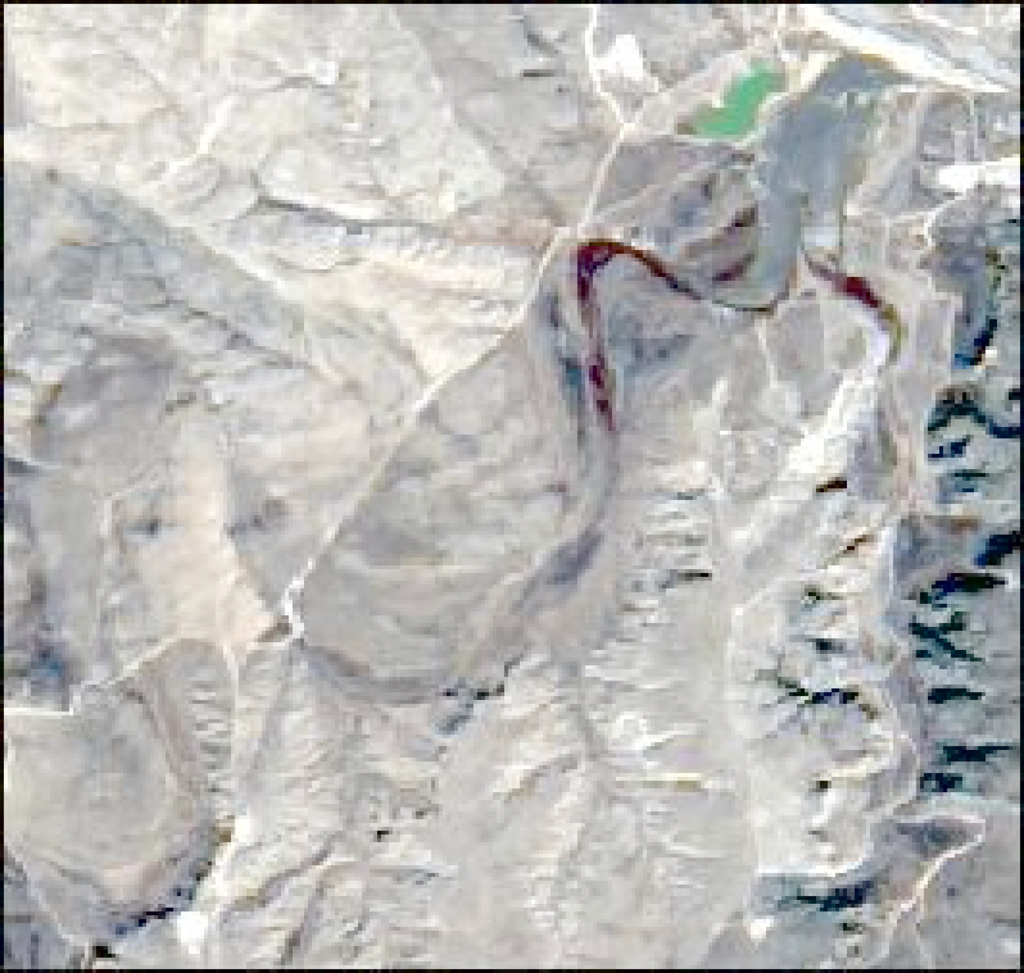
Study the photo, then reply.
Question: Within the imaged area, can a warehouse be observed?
No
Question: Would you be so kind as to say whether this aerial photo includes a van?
No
